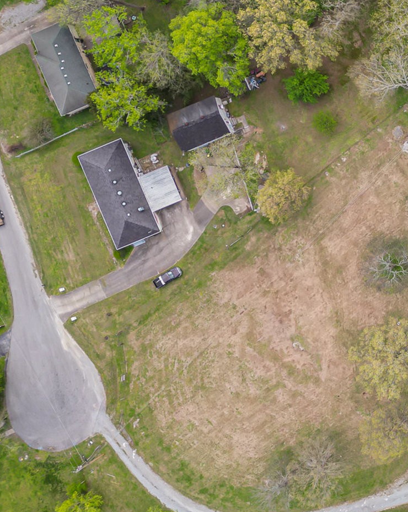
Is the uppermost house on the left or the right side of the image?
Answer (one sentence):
It is on the left.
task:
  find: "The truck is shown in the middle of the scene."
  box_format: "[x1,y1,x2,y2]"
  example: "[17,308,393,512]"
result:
[151,265,185,289]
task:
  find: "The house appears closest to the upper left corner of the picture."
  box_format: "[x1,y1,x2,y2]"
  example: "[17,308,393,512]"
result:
[31,22,100,116]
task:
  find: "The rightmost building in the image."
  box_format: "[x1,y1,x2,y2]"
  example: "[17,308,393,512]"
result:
[167,96,235,151]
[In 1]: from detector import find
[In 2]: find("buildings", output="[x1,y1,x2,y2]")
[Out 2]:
[31,22,100,116]
[78,139,166,249]
[167,96,235,151]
